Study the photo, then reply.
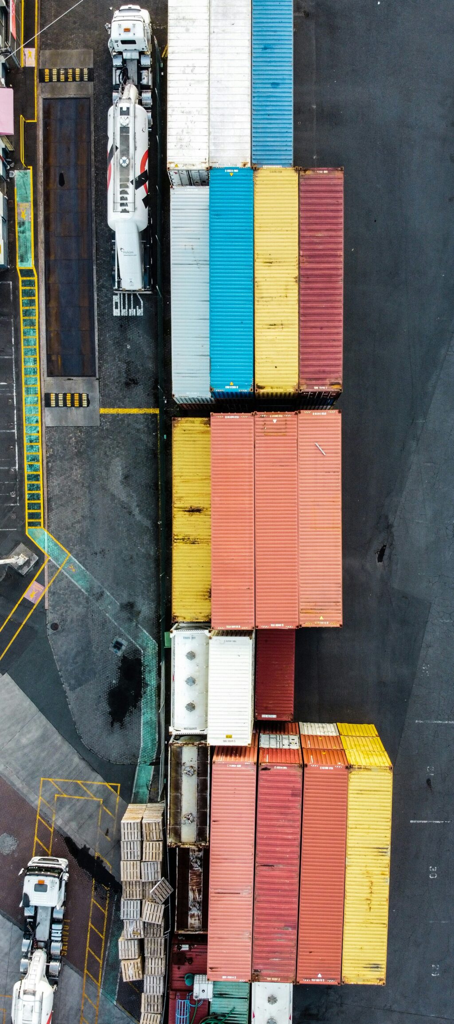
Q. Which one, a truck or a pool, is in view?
truck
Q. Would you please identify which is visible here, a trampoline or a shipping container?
shipping container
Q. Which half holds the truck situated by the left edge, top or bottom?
bottom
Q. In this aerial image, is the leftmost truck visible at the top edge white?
Yes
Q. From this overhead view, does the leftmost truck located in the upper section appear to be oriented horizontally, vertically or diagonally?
vertically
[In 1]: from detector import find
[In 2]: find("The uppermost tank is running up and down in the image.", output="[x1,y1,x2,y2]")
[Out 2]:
[174,627,209,728]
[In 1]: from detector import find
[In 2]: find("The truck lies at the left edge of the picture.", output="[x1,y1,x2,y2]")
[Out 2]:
[12,848,70,1024]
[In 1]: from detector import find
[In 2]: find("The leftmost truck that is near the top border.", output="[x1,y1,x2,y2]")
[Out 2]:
[103,5,153,293]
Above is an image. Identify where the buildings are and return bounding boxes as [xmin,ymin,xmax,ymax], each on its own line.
[0,0,21,68]
[0,137,10,268]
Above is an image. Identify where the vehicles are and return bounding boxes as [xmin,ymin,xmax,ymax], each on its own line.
[12,848,70,1024]
[103,5,153,293]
